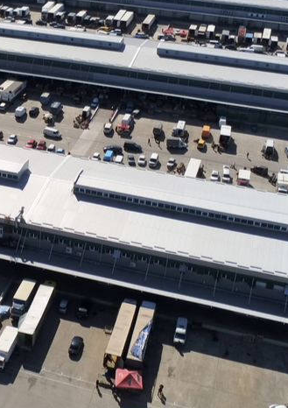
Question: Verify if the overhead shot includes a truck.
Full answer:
Yes, there's a truck here.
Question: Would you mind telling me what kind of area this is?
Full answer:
The area seen from above is an industrial area.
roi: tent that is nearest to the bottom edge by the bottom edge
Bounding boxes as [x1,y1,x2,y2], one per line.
[113,371,143,400]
